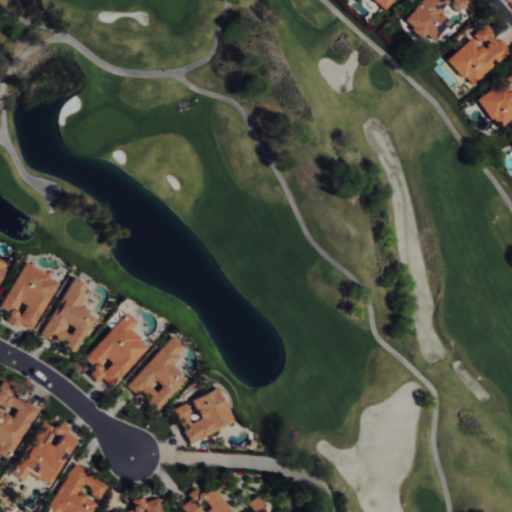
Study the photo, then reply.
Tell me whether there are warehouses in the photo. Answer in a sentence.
No, there isn't any warehouse down there.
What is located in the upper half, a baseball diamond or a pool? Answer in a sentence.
There is a pool in the upper half.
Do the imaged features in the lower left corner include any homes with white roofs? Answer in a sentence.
No, in the lower left corner there is no home with a white roof.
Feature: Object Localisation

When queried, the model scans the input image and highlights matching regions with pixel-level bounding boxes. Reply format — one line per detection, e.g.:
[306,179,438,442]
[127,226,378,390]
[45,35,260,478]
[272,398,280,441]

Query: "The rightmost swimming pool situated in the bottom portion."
[227,432,249,446]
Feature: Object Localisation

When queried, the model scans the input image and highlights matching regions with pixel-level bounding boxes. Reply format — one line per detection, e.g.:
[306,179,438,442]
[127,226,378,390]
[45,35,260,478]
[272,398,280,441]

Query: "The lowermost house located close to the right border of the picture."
[478,73,512,126]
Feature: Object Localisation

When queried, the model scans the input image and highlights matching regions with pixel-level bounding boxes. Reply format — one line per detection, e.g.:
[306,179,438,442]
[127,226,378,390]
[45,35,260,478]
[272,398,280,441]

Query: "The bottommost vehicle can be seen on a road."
[33,370,53,388]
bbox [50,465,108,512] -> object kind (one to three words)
house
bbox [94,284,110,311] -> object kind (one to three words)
swimming pool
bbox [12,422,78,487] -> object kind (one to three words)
house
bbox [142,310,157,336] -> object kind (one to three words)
swimming pool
